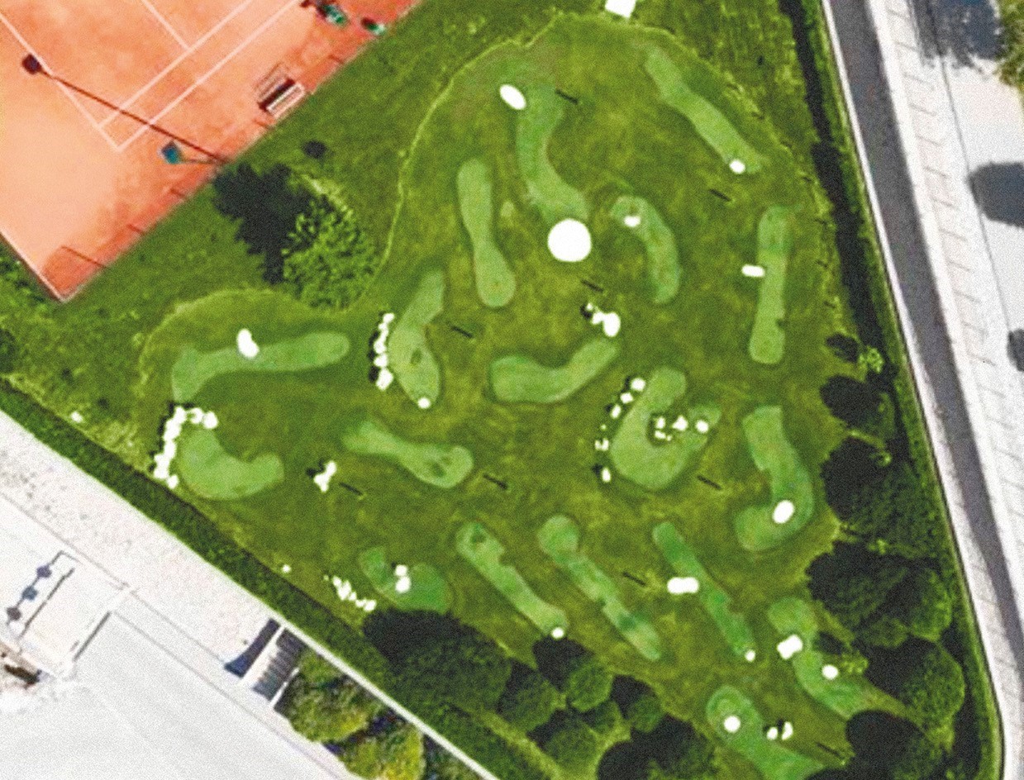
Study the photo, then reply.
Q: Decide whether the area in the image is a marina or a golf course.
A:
golf course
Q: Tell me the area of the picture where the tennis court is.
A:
top left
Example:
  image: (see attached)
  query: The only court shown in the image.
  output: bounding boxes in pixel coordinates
[0,0,423,303]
